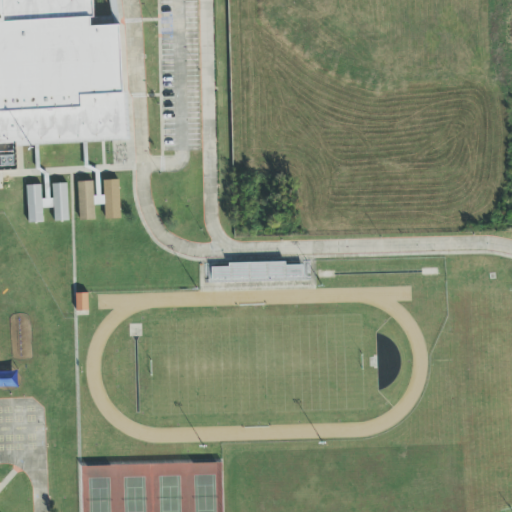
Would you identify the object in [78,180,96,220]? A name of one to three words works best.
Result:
building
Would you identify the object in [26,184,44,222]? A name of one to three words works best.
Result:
building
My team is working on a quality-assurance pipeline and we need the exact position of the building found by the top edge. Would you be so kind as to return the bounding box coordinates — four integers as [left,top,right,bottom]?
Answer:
[0,0,126,147]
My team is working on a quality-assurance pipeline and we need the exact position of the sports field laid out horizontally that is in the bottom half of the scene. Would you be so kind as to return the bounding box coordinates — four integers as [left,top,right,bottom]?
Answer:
[150,314,364,416]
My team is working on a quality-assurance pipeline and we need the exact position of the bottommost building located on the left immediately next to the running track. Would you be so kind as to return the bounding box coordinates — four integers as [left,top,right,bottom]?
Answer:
[76,292,89,316]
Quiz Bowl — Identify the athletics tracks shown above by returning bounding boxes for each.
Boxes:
[86,286,428,443]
